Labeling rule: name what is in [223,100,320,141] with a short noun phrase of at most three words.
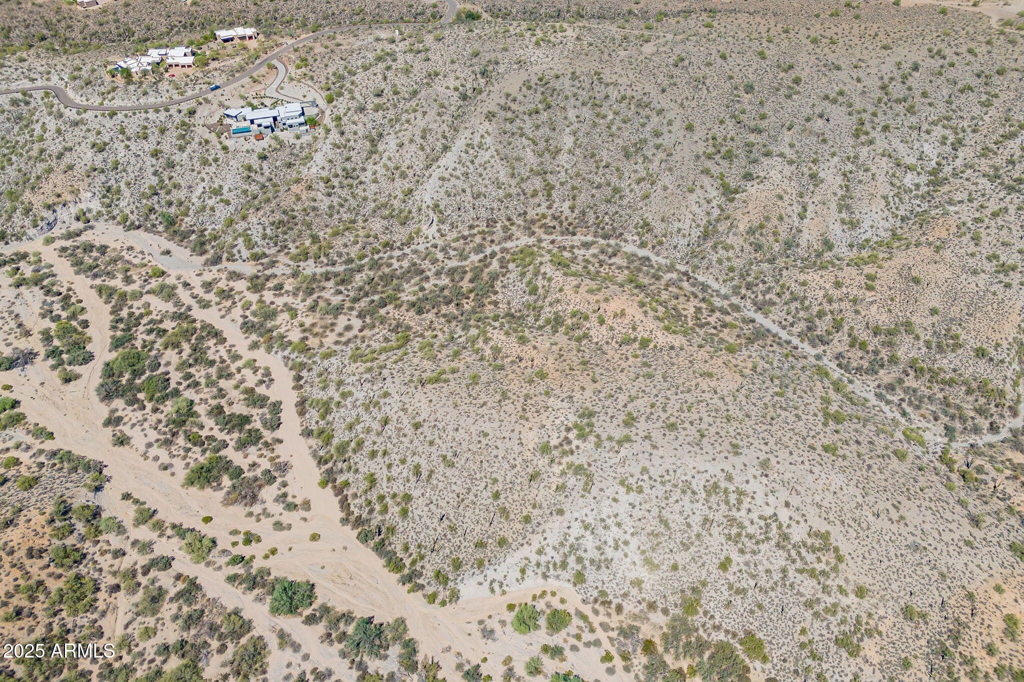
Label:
house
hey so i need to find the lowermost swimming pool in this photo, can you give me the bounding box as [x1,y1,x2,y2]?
[232,125,253,138]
